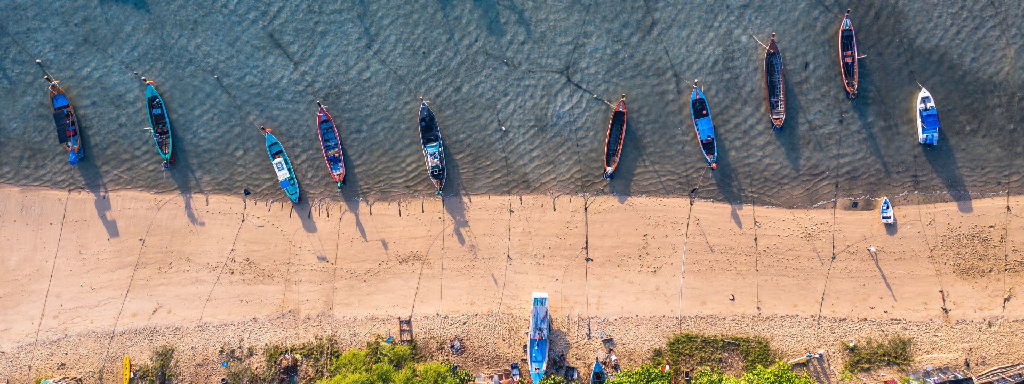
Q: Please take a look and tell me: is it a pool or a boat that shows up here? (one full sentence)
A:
Looking from above, you can make out a boat.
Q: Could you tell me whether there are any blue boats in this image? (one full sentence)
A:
Yes, the picture does show a blue boat.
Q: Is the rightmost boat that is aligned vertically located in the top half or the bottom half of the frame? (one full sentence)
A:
Seen from above, the rightmost boat that is aligned vertically lies in the top half of the view.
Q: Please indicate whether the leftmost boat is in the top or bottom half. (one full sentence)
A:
The leftmost boat is in the top half of the image.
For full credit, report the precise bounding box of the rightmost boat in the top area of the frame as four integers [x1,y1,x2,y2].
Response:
[914,88,940,147]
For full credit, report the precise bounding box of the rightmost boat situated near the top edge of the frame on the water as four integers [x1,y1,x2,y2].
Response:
[837,6,867,105]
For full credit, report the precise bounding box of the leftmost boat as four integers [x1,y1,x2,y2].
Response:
[42,76,84,172]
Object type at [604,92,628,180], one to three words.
boat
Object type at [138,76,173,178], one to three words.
boat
